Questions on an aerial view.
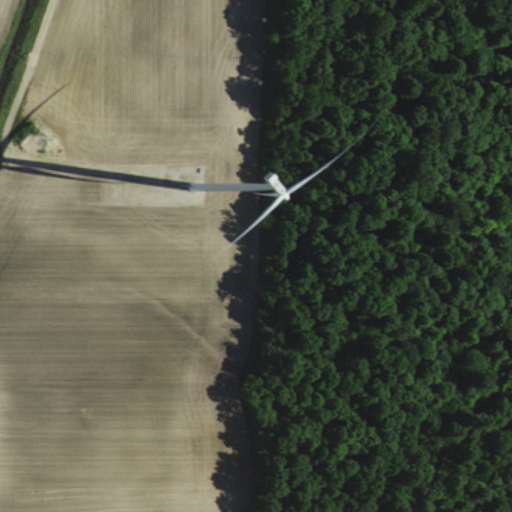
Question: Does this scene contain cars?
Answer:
No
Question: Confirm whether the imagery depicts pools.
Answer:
No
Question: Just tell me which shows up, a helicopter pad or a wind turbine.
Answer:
wind turbine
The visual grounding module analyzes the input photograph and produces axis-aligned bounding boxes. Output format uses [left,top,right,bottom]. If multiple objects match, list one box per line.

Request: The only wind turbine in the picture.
[185,116,379,250]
